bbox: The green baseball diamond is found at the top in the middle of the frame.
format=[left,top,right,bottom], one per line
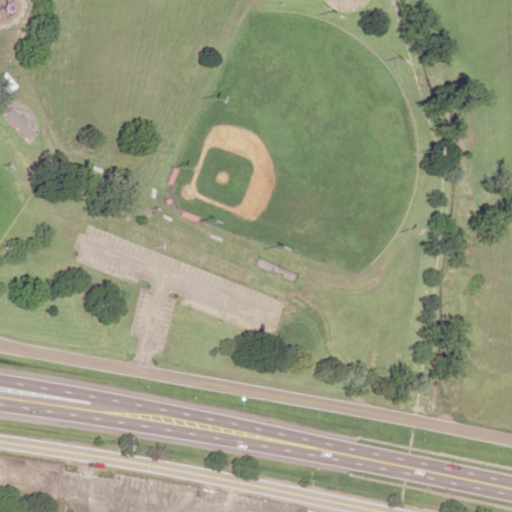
[168,0,420,274]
